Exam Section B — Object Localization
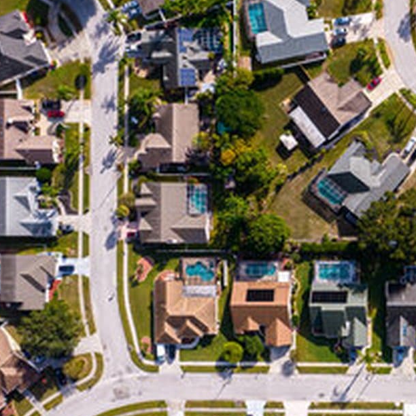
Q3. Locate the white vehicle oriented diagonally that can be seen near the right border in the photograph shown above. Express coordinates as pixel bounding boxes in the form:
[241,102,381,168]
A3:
[401,137,416,157]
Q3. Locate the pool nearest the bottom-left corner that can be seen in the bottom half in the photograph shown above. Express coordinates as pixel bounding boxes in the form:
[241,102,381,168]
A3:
[180,258,218,280]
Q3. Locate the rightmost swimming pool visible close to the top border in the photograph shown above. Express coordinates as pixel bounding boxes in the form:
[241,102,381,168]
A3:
[241,0,268,38]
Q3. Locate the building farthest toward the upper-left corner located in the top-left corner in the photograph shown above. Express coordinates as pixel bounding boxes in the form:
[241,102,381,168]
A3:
[0,11,53,93]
